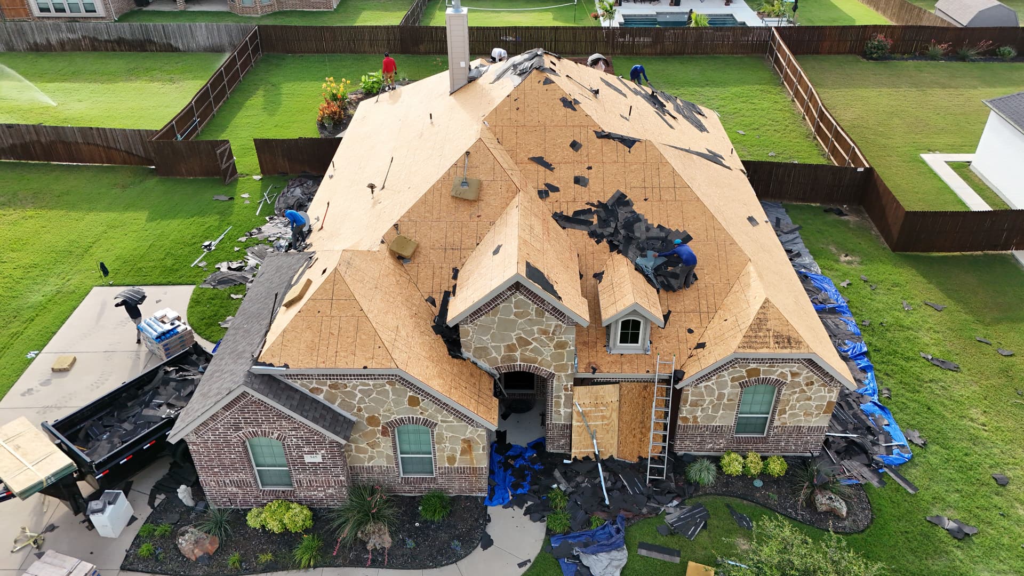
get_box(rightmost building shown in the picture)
[970,97,1024,204]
